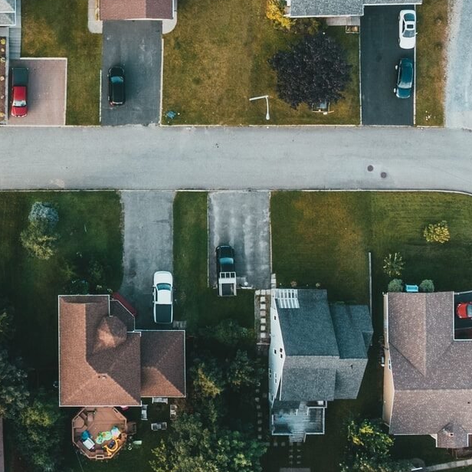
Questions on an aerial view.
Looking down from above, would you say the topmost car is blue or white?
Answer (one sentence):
The color of the topmost car is white.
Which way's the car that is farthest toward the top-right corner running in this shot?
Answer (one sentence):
In this picture, the car that is farthest toward the top-right corner lies vertically.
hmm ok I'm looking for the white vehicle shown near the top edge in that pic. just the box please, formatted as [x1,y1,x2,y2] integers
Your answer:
[398,10,418,49]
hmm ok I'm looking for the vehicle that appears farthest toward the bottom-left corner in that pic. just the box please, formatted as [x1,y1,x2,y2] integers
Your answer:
[153,271,175,323]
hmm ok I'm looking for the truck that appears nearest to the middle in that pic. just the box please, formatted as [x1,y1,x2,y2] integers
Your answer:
[216,246,237,297]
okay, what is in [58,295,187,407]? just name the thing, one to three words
house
